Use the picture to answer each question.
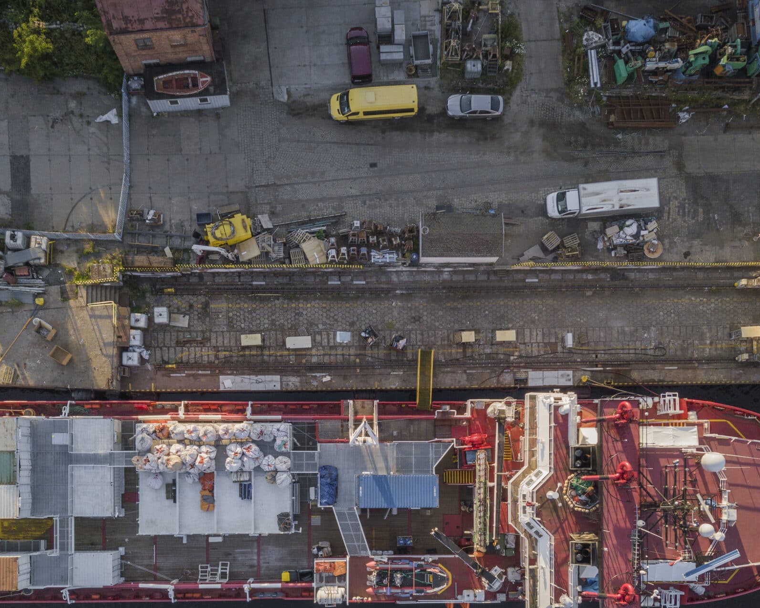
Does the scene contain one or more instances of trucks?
Yes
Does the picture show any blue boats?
No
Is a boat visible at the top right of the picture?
No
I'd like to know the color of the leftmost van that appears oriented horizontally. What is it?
yellow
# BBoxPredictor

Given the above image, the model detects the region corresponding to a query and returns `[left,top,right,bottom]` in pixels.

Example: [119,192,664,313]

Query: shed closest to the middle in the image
[419,213,505,264]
